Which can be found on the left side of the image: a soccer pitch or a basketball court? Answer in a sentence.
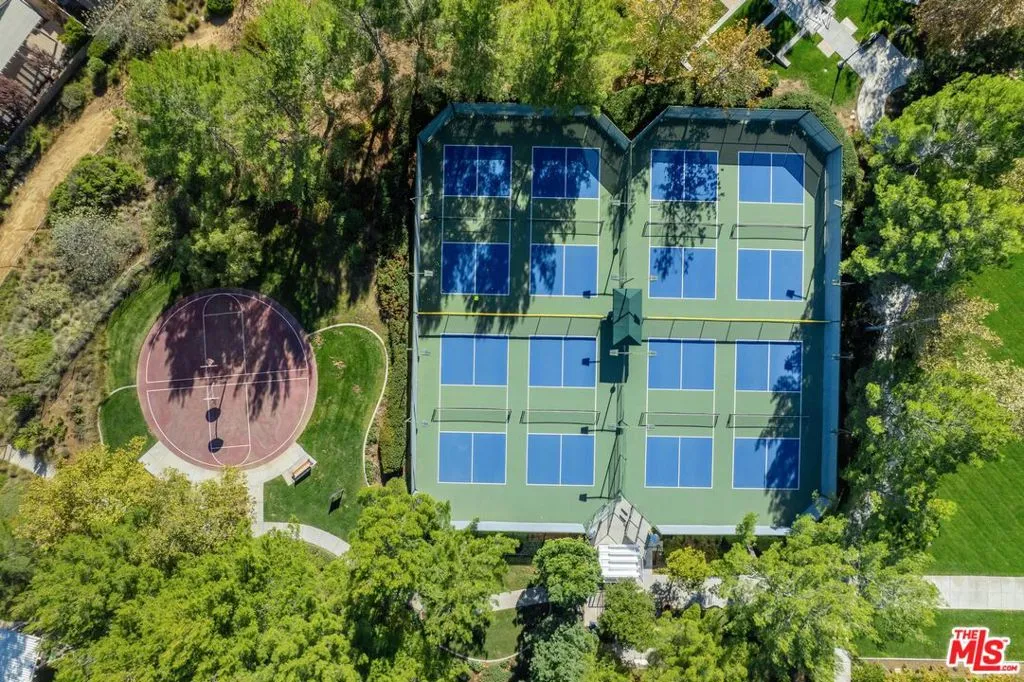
There is a basketball court on the left side of the image.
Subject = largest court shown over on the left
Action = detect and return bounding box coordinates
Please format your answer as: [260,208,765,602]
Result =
[137,288,318,470]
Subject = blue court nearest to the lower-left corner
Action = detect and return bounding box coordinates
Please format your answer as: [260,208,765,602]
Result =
[437,334,509,485]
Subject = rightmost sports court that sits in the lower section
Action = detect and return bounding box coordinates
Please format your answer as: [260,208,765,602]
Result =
[732,339,803,490]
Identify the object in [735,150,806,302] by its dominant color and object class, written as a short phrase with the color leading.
blue sports court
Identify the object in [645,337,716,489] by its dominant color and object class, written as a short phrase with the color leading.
blue sports court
